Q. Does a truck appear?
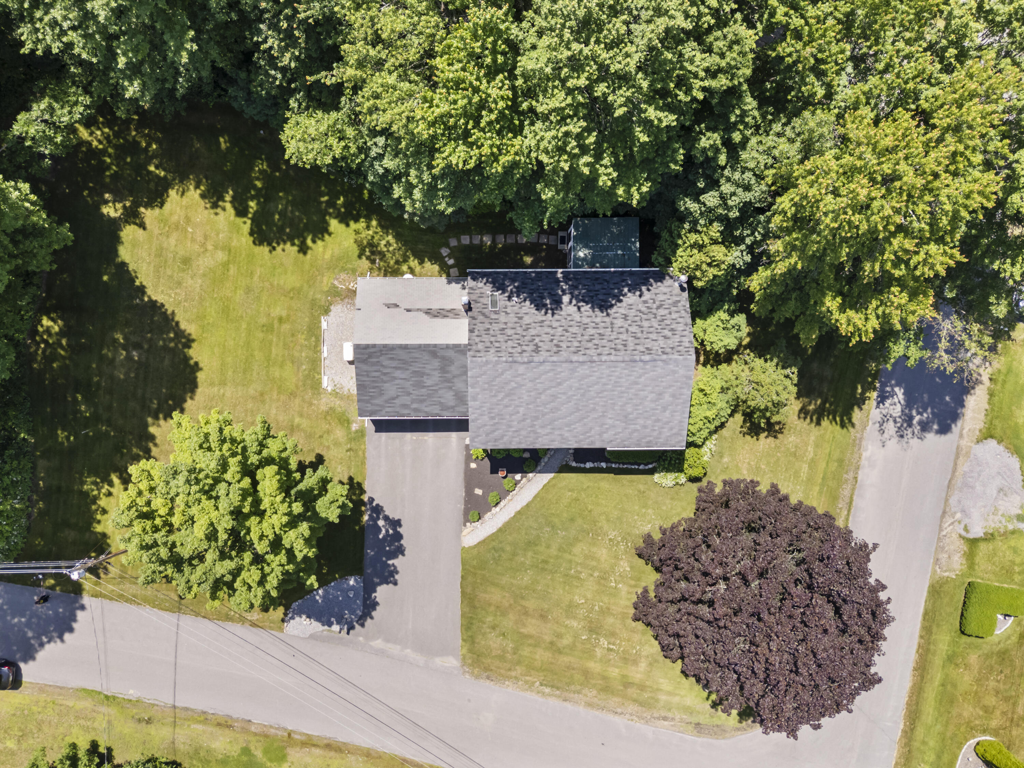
No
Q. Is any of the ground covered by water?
No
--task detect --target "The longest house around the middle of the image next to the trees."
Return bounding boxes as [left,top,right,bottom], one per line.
[353,266,695,451]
